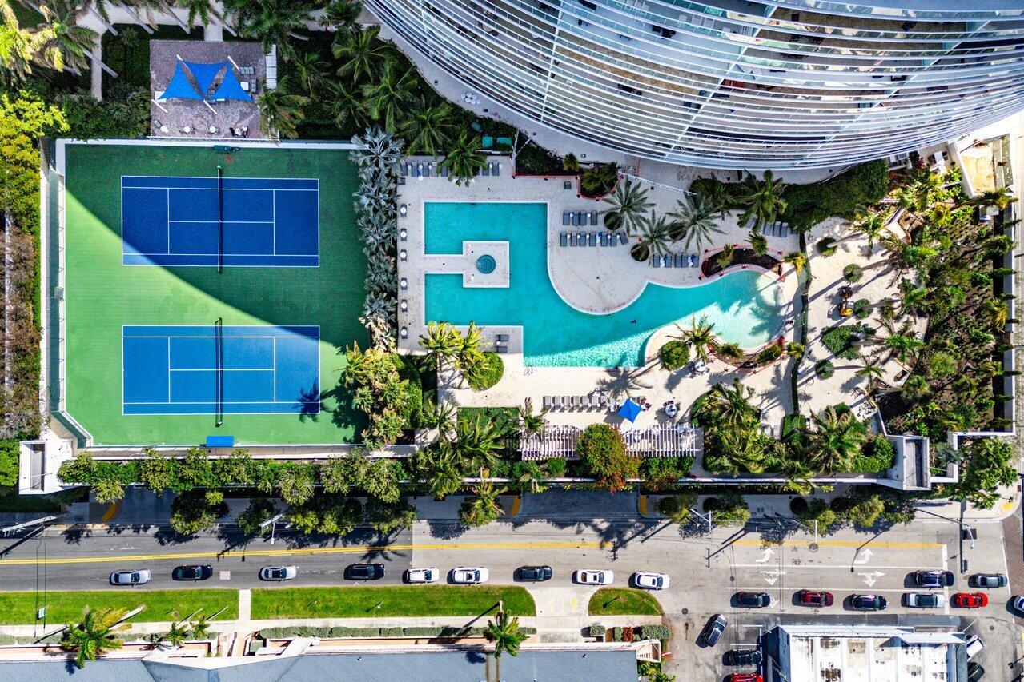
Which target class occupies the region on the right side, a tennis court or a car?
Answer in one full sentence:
You can see a car on the right side.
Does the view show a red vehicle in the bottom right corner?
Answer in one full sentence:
Yes, you'll find a red vehicle in the bottom right corner.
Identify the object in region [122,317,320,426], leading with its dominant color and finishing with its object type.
blue tennis court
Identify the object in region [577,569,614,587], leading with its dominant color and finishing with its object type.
white car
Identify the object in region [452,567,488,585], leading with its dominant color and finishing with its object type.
white car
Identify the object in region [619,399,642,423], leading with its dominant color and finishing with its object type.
blue umbrella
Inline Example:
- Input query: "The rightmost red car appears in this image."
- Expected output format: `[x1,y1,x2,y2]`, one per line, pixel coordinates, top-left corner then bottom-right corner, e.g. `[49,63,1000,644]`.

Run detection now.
[953,592,988,610]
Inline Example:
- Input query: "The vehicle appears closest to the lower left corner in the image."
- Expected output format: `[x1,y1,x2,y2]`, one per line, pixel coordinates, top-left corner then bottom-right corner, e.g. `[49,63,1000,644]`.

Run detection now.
[112,569,151,586]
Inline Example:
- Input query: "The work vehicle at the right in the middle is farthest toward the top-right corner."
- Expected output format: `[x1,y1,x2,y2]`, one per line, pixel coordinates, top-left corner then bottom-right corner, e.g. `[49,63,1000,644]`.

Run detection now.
[837,280,853,307]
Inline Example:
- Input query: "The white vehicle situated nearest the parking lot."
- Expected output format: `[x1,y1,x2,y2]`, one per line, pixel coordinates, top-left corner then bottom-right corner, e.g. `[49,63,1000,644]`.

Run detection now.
[634,572,671,591]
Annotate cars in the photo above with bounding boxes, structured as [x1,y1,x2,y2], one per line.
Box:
[798,590,836,609]
[112,569,151,586]
[634,572,671,591]
[971,572,1010,590]
[404,567,440,585]
[904,592,942,610]
[577,569,614,587]
[725,649,762,667]
[1008,593,1024,611]
[517,565,554,583]
[452,567,488,585]
[175,565,213,582]
[734,592,772,610]
[261,566,299,583]
[953,592,988,610]
[967,656,991,682]
[348,563,385,581]
[699,612,727,650]
[913,570,954,589]
[850,594,888,613]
